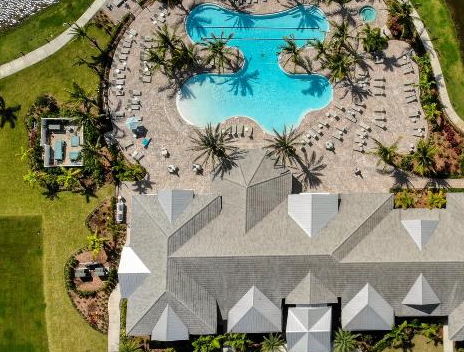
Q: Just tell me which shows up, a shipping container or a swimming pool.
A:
swimming pool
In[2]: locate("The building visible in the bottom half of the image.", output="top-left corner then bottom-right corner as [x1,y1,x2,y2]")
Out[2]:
[118,150,464,352]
